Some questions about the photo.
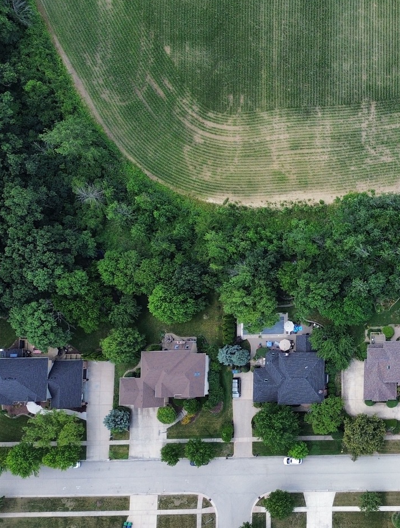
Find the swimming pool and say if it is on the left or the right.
right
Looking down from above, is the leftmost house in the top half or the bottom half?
bottom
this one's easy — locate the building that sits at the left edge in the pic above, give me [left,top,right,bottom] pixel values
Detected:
[0,347,93,408]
